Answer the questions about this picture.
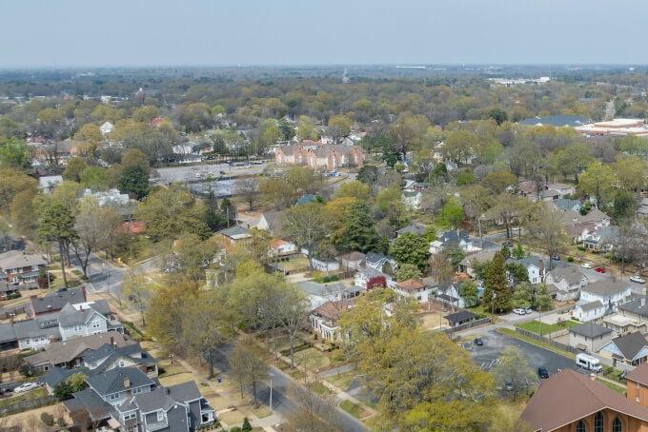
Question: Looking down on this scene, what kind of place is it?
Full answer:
It's a residential area.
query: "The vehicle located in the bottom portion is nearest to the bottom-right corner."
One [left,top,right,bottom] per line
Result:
[574,354,600,369]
